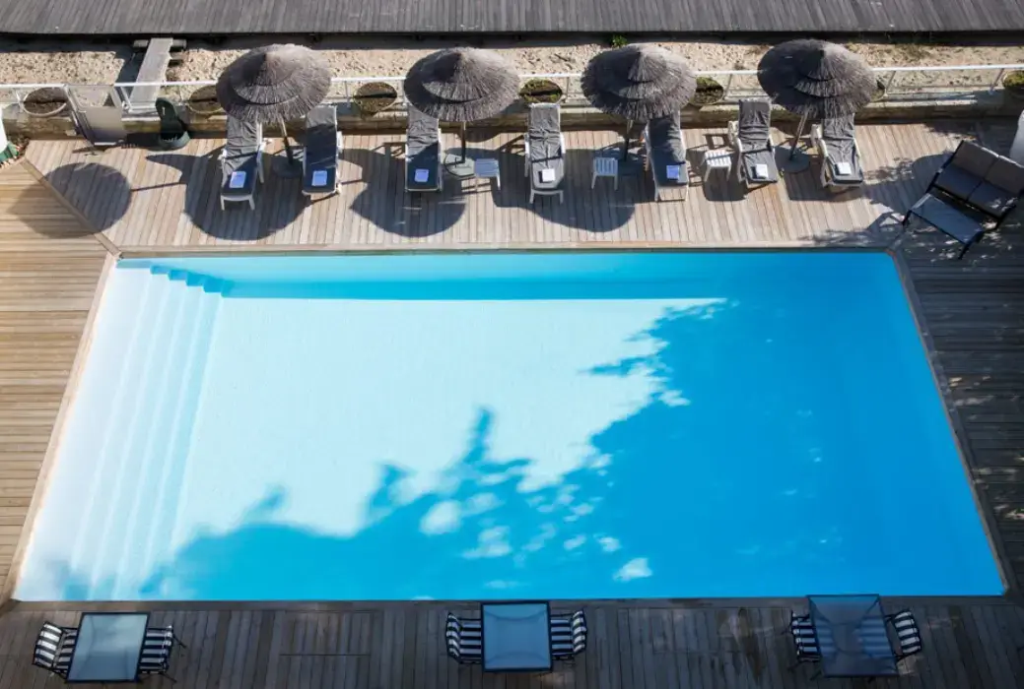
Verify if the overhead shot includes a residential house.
No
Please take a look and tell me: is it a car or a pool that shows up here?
pool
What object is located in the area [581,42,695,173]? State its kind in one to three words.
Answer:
umbrella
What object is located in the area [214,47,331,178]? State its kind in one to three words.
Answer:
umbrella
